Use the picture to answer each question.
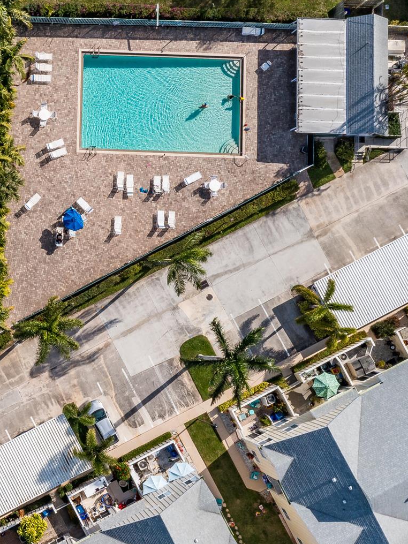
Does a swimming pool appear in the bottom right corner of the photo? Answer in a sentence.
No, no swimming pool can be made out in the bottom right corner of the photo.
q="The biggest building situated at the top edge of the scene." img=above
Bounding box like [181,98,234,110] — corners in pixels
[288,15,388,137]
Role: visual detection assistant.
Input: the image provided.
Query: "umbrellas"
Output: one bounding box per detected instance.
[319,371,347,399]
[168,458,193,482]
[62,207,86,230]
[141,469,167,494]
